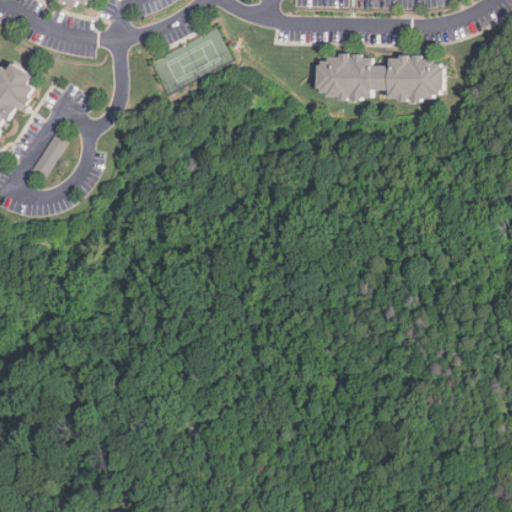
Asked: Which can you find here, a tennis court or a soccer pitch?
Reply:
tennis court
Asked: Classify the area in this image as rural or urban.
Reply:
rural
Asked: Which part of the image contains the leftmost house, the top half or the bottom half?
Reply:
top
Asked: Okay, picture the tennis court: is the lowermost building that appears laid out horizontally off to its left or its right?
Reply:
to the right of it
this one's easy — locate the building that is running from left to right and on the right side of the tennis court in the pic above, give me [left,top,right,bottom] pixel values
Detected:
[317,54,448,104]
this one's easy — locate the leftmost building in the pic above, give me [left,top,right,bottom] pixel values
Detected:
[0,56,36,128]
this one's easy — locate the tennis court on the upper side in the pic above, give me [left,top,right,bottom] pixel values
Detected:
[154,30,233,94]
